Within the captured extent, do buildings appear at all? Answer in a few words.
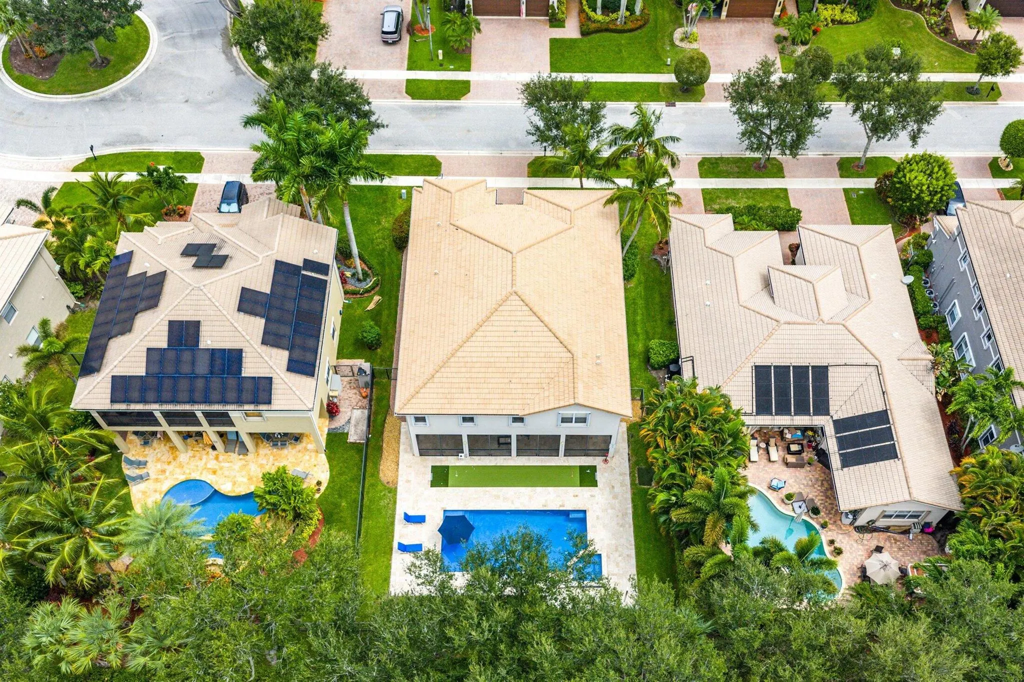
Yes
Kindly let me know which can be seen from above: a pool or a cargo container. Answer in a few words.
pool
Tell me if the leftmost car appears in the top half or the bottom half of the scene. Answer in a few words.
top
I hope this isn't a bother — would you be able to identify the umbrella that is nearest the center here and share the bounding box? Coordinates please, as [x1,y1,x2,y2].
[436,510,478,545]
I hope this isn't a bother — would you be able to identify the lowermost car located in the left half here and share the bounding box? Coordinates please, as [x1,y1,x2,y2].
[221,178,252,211]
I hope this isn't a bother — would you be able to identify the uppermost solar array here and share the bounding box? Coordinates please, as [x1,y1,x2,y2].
[182,243,229,266]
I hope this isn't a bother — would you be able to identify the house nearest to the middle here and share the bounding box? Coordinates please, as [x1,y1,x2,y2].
[394,177,634,458]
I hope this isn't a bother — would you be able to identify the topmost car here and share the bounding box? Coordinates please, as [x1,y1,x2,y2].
[381,4,404,39]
